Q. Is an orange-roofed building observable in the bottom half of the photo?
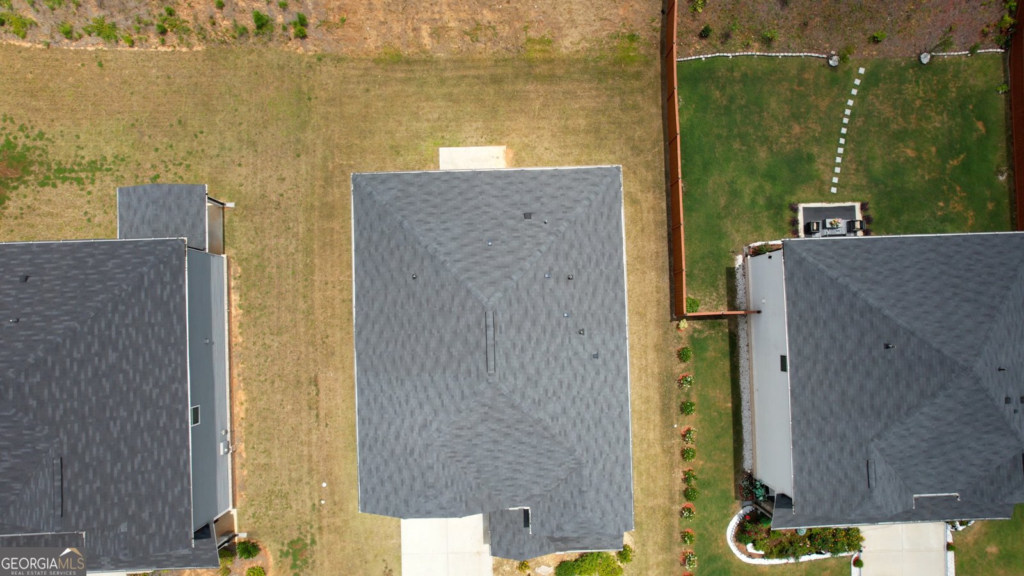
No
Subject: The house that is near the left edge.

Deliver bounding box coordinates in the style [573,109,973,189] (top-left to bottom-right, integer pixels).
[0,184,241,575]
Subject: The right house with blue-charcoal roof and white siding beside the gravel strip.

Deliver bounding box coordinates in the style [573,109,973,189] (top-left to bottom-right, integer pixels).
[746,231,1024,530]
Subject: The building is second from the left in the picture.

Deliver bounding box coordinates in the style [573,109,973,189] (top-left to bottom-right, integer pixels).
[350,164,634,560]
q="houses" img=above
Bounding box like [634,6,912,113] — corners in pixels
[0,184,241,575]
[746,231,1024,530]
[350,164,634,560]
